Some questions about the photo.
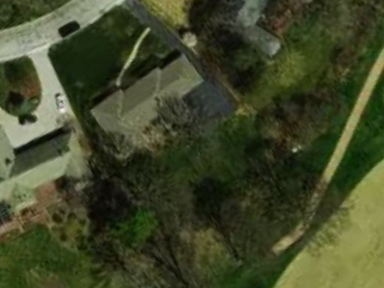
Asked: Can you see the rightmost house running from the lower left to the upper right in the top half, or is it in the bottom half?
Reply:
top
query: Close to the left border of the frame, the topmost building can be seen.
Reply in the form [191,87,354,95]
[0,123,91,210]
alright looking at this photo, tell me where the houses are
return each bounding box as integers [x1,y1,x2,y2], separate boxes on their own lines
[86,48,203,149]
[0,123,91,210]
[234,0,284,57]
